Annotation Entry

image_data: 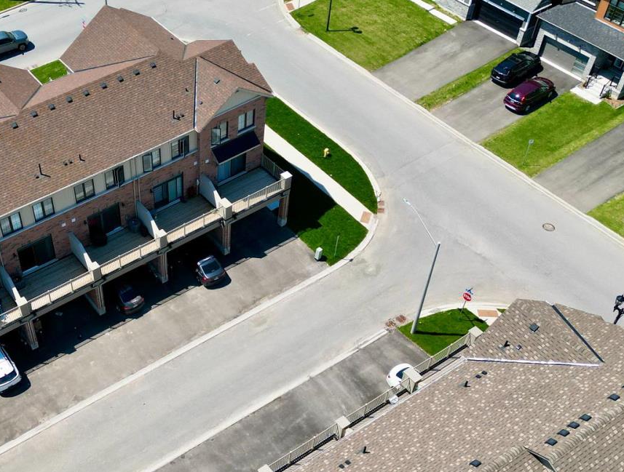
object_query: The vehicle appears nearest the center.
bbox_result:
[170,238,227,285]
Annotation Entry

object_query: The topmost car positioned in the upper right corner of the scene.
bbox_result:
[489,53,546,88]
